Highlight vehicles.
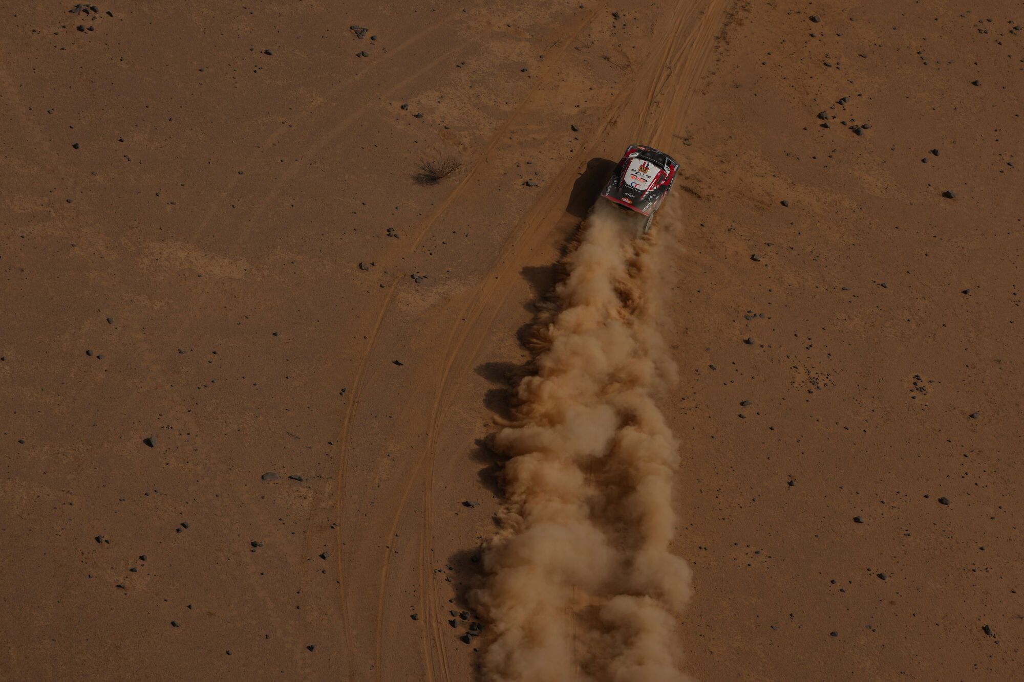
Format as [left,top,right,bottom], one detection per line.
[596,145,680,235]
